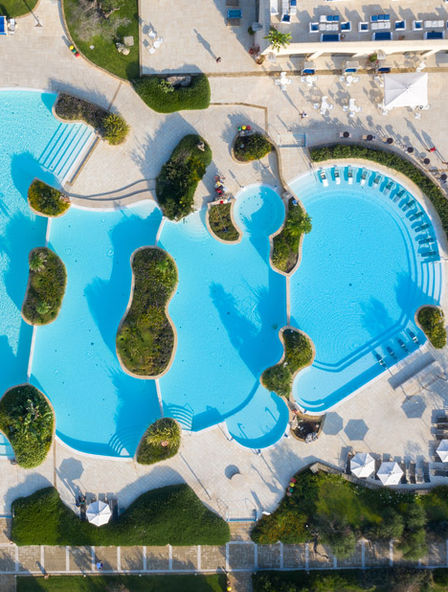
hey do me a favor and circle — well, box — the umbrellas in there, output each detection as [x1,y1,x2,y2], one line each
[349,453,375,477]
[85,500,111,526]
[375,461,403,485]
[383,73,428,108]
[435,439,448,463]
